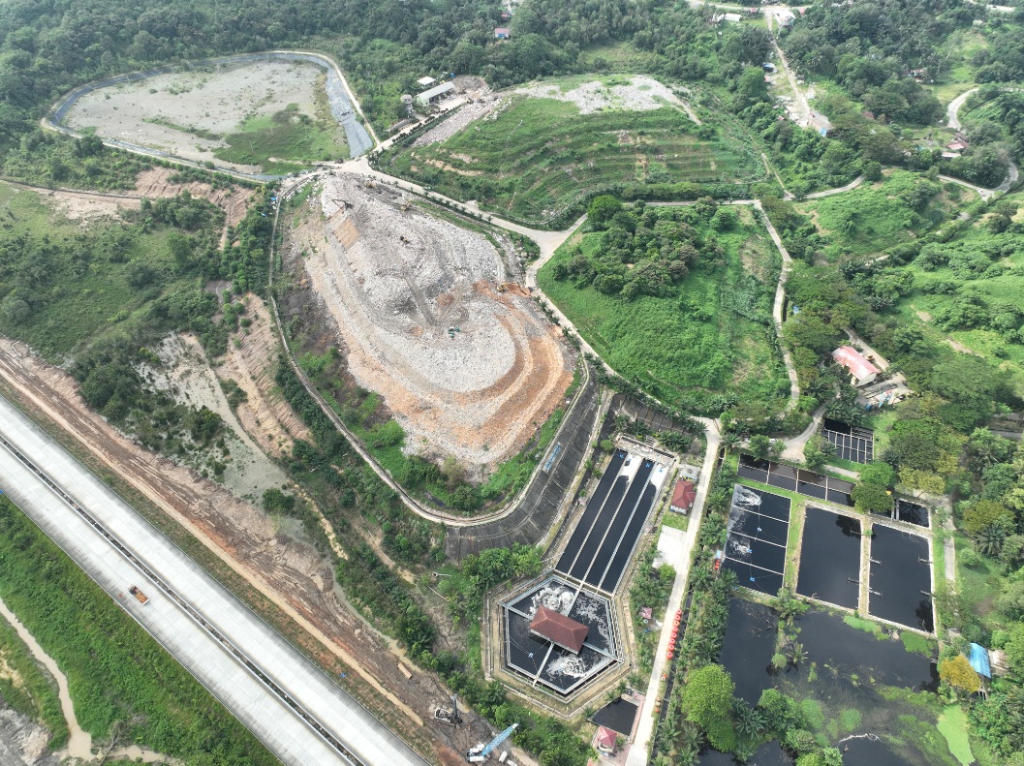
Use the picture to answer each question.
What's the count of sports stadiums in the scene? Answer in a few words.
0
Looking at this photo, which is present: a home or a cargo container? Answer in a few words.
home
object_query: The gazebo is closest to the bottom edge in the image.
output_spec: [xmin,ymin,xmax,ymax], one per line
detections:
[595,725,619,753]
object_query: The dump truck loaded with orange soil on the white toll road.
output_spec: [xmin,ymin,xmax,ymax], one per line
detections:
[125,581,150,605]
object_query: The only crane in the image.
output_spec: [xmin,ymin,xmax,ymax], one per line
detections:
[461,722,520,766]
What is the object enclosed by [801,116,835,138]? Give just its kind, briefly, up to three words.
barn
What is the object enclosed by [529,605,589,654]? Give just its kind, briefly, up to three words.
building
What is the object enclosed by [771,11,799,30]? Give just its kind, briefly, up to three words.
house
